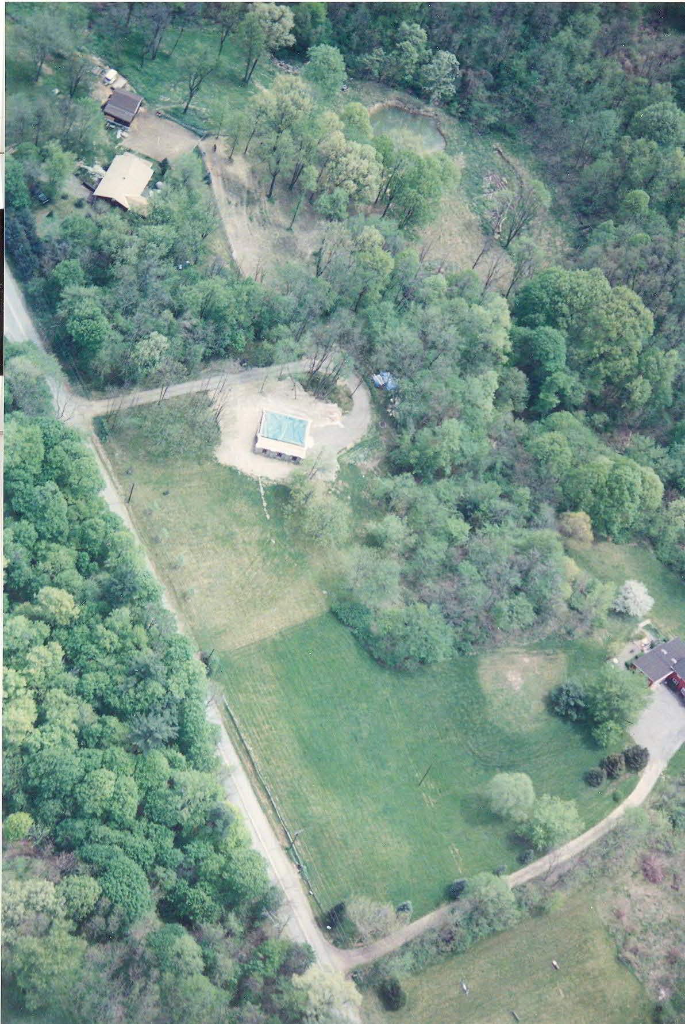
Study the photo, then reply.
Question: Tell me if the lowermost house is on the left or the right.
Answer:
right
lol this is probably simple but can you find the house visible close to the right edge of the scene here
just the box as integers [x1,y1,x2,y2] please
[635,633,685,692]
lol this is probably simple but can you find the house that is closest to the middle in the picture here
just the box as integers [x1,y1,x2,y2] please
[254,409,313,464]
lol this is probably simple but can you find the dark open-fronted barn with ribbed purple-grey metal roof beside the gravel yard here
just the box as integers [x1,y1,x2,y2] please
[100,87,144,134]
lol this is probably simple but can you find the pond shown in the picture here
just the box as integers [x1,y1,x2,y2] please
[371,109,444,155]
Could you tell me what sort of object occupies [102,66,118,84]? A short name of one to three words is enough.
vehicle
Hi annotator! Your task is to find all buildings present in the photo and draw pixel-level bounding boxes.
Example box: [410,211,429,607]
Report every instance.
[635,633,685,692]
[100,87,144,134]
[254,409,313,464]
[94,152,151,214]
